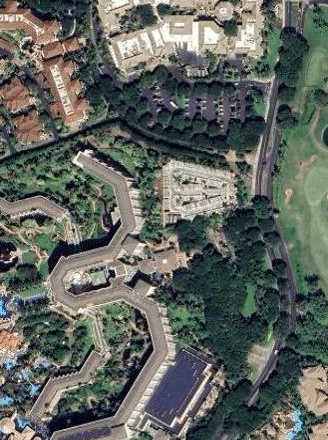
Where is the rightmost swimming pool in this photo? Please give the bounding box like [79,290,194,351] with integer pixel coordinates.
[285,409,303,440]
